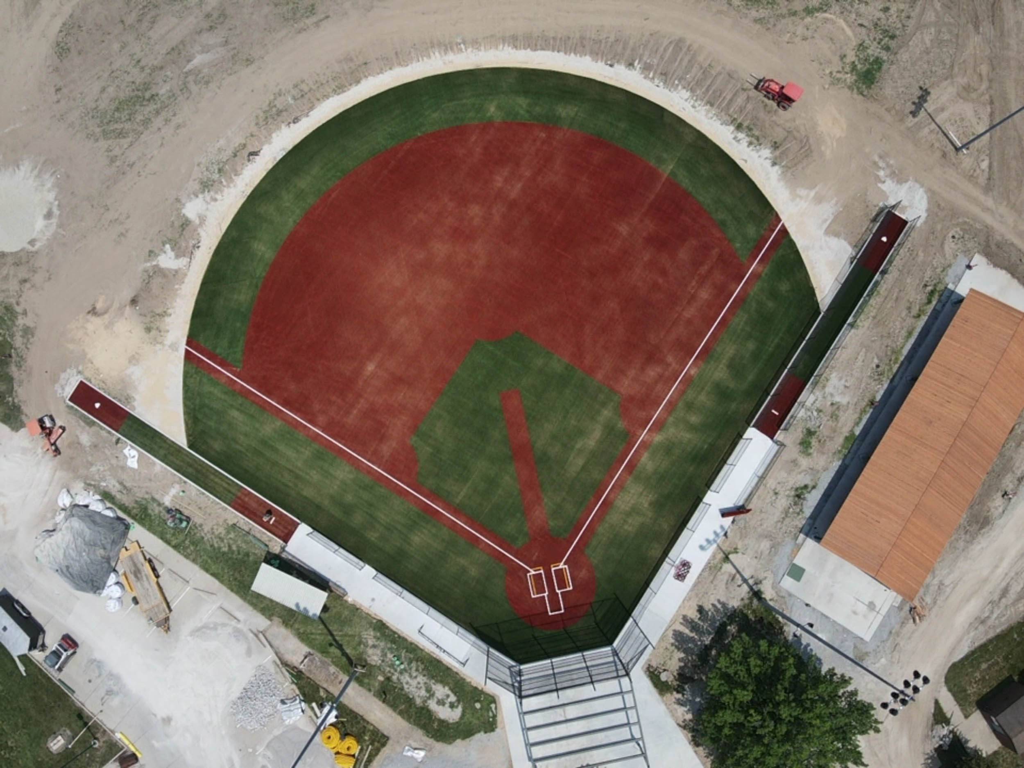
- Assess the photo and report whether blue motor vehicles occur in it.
No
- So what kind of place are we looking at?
sports ground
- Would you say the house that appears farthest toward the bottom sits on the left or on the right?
right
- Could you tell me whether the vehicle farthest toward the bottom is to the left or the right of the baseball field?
to the left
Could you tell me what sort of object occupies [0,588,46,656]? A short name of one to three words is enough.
trailer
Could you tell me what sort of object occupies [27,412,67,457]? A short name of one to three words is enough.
work vehicle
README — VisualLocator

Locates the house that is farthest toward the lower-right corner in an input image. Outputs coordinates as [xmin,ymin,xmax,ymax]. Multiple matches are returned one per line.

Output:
[982,676,1024,762]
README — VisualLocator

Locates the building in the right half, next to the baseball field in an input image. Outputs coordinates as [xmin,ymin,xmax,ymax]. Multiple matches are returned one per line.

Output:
[814,291,1024,602]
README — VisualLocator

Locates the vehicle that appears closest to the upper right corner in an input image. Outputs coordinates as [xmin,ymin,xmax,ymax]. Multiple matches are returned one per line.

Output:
[745,76,805,112]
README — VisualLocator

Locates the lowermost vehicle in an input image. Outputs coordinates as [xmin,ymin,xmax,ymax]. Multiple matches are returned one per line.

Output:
[36,631,80,677]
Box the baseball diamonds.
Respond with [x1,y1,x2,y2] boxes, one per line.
[182,67,823,664]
